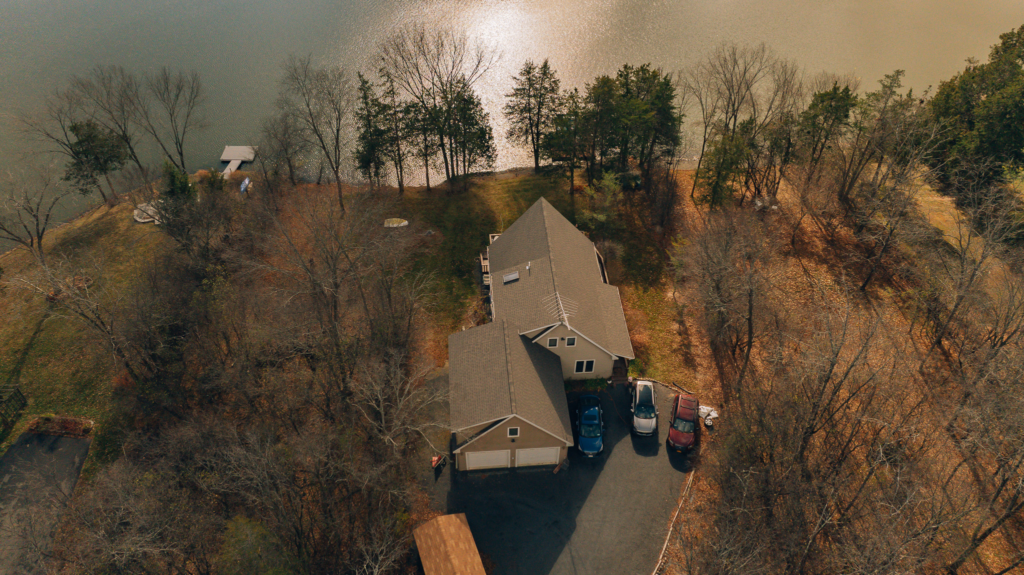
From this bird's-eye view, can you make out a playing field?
No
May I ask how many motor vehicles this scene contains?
3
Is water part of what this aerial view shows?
Yes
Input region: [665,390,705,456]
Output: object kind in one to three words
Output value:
car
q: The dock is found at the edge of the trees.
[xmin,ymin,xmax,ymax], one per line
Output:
[222,143,259,180]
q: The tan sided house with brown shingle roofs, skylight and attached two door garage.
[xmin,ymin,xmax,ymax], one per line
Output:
[448,197,636,475]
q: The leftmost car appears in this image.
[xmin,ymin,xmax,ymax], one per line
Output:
[574,391,608,458]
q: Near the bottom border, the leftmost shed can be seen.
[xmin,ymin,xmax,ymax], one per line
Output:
[413,513,486,575]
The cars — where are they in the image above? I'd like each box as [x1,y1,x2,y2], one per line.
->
[629,378,663,438]
[574,391,608,458]
[665,390,705,456]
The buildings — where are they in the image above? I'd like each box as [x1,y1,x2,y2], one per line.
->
[448,197,636,475]
[413,513,486,575]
